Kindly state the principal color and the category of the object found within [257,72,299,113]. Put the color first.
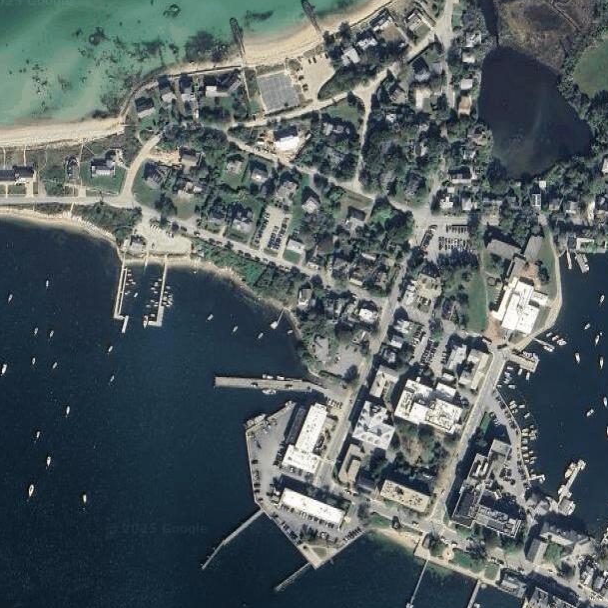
gray tennis court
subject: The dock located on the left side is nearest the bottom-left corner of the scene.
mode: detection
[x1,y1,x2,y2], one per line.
[201,510,263,570]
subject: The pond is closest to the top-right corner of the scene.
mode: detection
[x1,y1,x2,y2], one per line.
[478,0,592,180]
